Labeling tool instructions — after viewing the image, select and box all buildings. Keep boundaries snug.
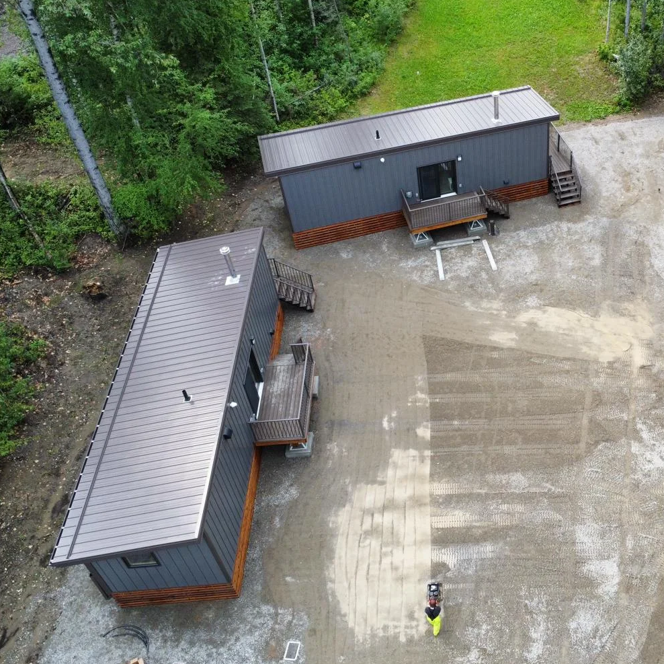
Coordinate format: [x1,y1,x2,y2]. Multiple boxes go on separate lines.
[46,228,284,609]
[257,86,561,248]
